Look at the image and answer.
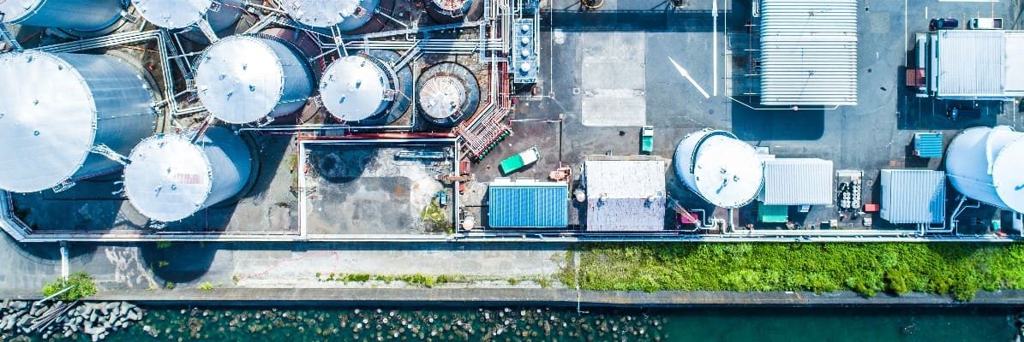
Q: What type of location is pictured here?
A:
industrial area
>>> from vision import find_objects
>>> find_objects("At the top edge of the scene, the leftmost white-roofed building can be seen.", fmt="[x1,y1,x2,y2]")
[753,0,857,105]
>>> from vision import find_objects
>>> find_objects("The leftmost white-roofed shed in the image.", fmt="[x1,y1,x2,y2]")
[584,155,668,231]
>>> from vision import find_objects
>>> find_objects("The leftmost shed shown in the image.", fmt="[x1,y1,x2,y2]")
[488,177,568,229]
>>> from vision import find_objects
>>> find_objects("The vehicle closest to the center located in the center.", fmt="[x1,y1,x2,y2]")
[499,145,540,175]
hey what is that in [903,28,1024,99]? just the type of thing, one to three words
building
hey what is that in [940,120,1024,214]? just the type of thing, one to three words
storage tank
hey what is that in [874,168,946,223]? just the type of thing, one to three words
shed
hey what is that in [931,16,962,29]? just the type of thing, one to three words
vehicle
